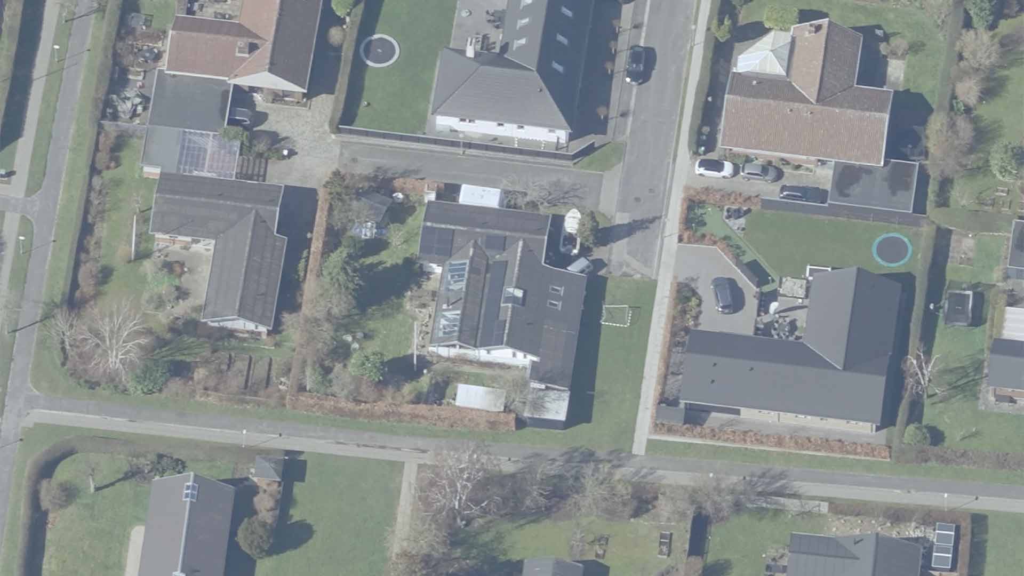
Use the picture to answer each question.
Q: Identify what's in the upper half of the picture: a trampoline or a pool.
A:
trampoline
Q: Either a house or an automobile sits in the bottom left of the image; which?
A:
house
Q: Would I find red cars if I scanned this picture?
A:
No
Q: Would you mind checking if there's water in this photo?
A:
No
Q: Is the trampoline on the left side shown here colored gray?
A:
Yes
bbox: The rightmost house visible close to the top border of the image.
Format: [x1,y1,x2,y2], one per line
[720,18,893,170]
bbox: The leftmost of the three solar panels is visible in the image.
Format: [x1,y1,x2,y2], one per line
[421,226,453,257]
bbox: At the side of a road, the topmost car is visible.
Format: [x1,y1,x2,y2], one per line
[627,46,648,83]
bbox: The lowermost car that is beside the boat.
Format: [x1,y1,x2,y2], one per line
[562,253,596,273]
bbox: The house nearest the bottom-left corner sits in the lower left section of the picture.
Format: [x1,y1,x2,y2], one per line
[141,473,235,576]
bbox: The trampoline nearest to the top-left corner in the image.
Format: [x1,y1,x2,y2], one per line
[360,35,399,67]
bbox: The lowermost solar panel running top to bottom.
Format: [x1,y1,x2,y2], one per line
[493,320,506,344]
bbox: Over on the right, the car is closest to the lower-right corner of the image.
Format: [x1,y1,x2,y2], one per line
[712,279,736,315]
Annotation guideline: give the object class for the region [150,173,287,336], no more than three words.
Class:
house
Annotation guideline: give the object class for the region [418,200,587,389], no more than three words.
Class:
house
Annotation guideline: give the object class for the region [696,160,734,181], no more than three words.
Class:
car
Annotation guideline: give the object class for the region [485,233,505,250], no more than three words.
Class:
solar panel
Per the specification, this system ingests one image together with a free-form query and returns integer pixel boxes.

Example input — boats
[561,208,580,256]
